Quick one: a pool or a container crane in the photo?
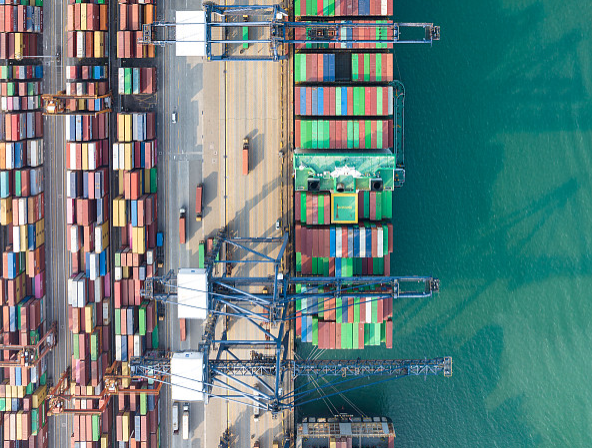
container crane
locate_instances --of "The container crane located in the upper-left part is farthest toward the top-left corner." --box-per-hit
[39,89,115,117]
